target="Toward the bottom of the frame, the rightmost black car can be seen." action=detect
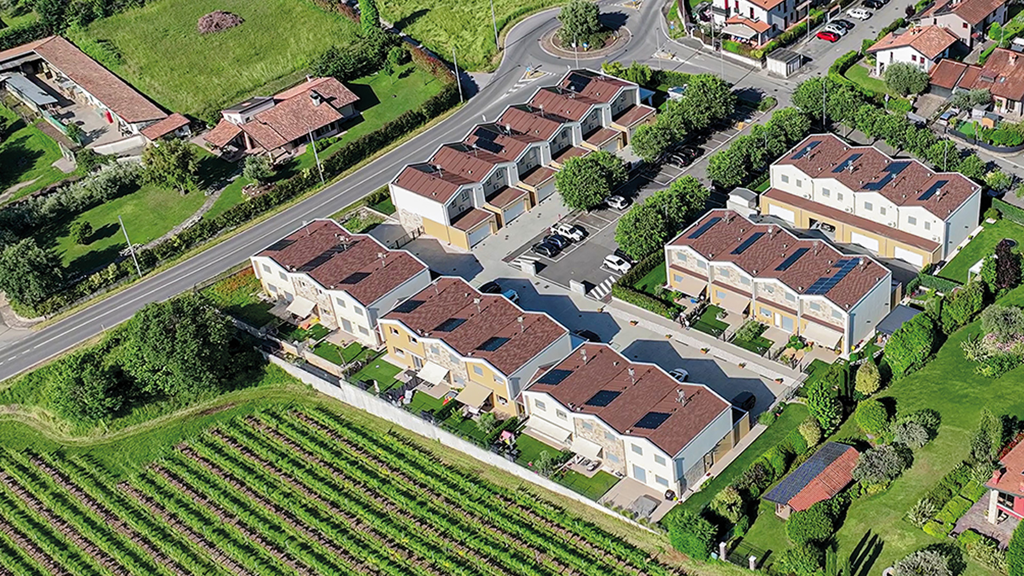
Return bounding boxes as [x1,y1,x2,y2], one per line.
[729,387,762,416]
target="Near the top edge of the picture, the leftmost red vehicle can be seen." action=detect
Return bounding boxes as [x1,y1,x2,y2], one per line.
[815,28,841,43]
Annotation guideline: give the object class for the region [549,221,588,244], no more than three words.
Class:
car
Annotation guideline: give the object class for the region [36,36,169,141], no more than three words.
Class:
barn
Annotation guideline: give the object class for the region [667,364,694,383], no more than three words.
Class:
car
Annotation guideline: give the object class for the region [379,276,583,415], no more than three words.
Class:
house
